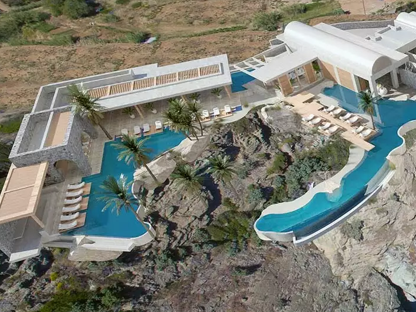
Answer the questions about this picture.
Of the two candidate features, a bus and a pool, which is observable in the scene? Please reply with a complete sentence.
The image shows a pool.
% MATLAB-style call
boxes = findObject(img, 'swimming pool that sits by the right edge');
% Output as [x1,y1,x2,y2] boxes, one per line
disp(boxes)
[253,85,416,245]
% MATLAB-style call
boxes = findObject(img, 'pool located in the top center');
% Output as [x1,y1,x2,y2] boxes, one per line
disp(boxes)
[230,68,253,93]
